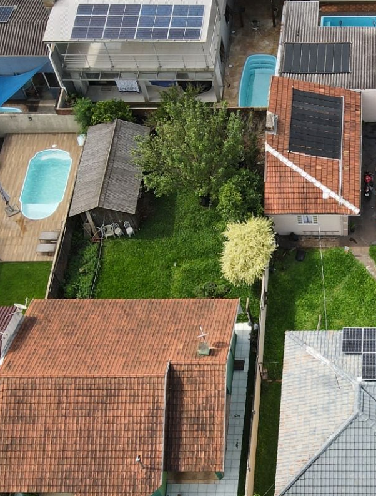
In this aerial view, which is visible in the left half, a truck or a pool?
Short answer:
pool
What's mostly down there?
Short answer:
buildings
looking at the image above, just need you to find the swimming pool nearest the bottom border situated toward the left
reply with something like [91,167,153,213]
[20,149,73,219]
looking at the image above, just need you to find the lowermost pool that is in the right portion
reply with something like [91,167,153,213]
[239,54,278,106]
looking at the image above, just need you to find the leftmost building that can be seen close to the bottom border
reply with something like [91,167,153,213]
[0,298,241,496]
